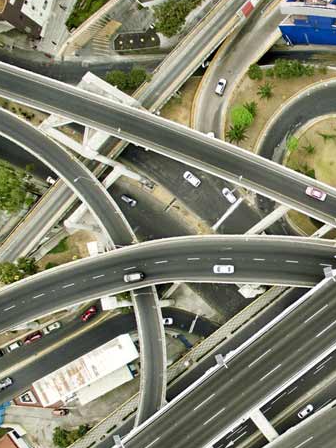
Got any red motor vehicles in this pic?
Yes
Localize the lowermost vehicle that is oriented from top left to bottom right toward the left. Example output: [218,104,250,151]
[121,193,138,207]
